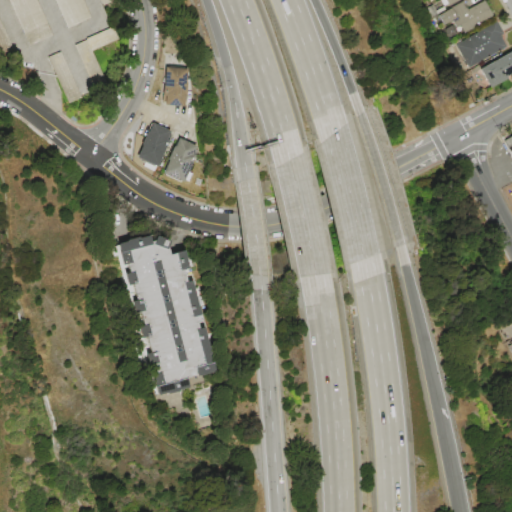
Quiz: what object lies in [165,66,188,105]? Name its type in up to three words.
house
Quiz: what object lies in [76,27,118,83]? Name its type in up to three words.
building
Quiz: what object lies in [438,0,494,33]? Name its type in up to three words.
house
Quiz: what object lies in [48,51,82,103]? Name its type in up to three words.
building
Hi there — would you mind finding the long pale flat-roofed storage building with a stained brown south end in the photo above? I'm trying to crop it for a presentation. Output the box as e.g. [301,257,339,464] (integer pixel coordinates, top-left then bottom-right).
[12,0,52,44]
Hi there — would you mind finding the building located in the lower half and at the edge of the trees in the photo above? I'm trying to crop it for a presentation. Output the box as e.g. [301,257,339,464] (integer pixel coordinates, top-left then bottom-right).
[116,236,217,394]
